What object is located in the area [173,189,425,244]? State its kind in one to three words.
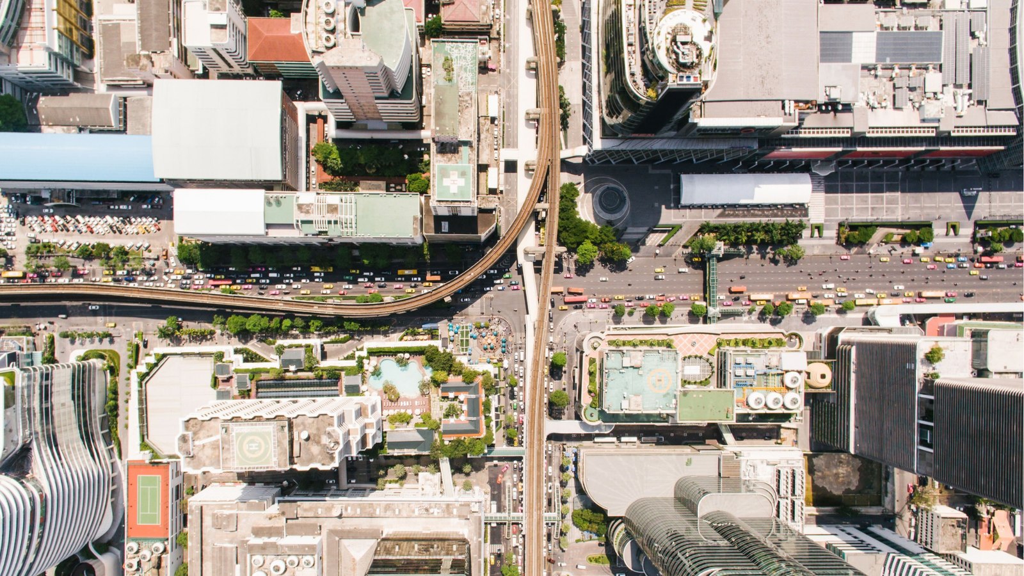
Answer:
building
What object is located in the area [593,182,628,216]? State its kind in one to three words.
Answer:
fountain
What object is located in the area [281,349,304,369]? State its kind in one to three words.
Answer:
building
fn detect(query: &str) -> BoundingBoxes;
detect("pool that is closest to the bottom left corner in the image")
[369,359,423,398]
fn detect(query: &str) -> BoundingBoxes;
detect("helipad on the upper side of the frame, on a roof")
[437,166,472,202]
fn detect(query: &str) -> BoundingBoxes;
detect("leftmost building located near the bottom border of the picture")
[0,357,113,576]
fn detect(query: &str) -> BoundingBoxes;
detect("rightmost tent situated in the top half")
[677,174,813,208]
